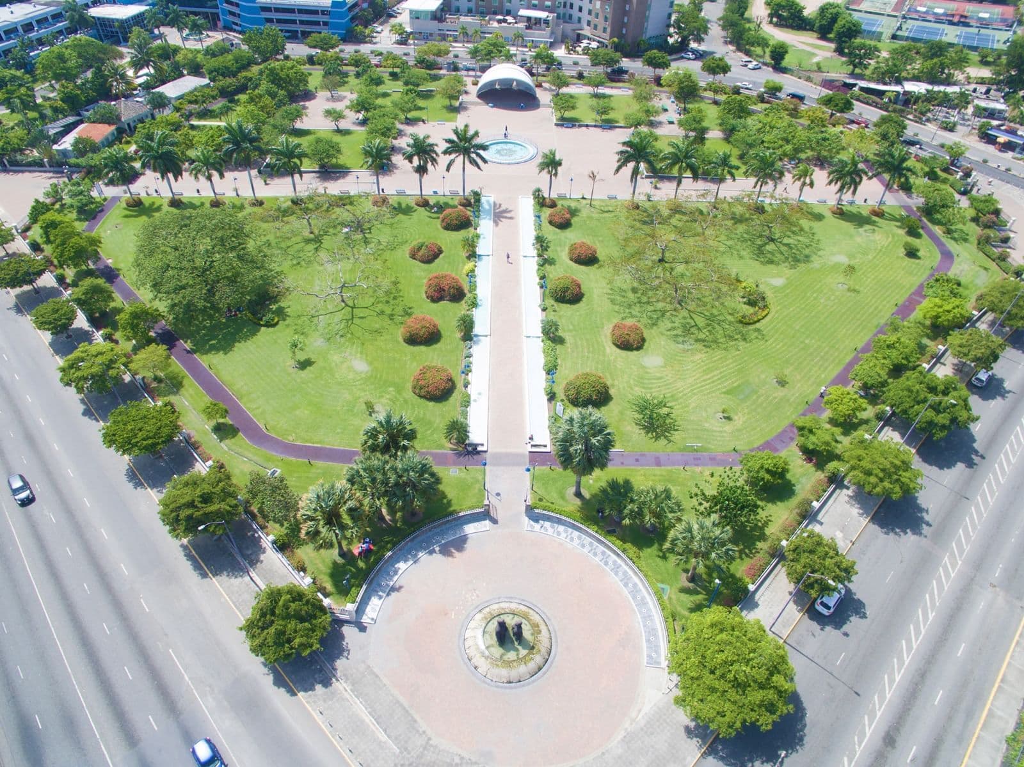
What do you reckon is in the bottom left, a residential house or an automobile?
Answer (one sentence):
There is an automobile in the bottom left.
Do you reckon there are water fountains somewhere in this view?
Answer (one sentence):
Yes, the photo shows a water fountain.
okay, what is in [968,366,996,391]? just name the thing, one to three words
car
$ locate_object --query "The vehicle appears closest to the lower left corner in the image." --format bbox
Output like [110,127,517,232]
[187,730,230,767]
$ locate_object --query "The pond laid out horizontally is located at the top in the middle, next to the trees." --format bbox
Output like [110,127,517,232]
[475,135,542,165]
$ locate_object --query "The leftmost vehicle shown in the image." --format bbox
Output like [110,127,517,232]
[2,467,37,508]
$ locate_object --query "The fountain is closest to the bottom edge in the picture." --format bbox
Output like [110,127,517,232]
[457,593,558,689]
